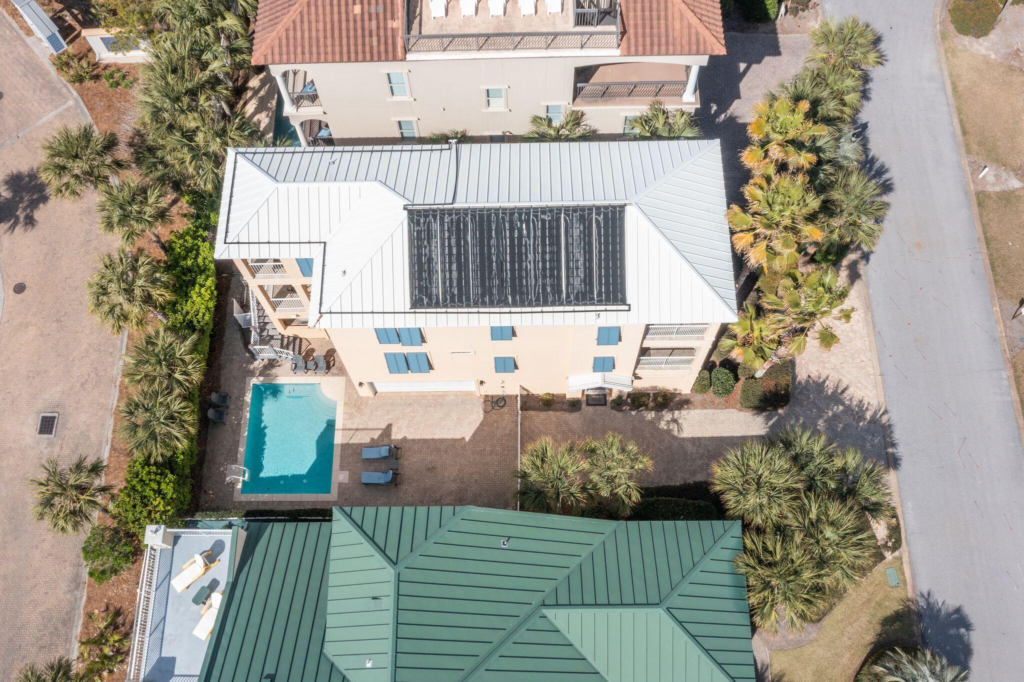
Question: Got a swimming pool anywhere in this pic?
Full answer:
Yes, the image includes a swimming pool.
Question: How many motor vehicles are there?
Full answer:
The photo contains no motor vehicles.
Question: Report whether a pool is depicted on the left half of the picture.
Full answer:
Yes, a pool shows up on the left half of the picture.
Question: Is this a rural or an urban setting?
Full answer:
From above, the setting appears urban.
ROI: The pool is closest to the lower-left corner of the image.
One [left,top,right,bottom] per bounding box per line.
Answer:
[225,376,350,501]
